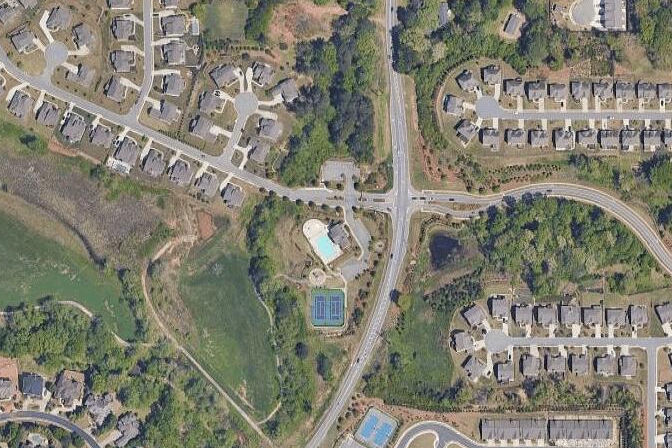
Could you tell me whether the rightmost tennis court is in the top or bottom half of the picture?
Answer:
bottom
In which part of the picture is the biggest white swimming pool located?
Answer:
center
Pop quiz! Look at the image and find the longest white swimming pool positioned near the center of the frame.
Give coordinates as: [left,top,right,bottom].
[303,220,343,264]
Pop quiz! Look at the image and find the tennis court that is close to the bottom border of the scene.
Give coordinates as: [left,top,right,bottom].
[357,409,397,448]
